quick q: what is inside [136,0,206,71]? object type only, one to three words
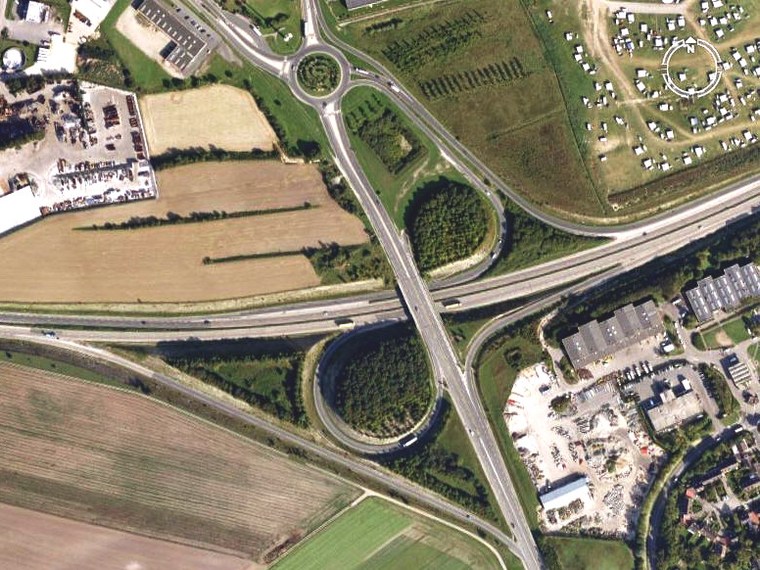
building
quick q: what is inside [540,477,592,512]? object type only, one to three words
barn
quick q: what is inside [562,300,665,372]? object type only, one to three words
building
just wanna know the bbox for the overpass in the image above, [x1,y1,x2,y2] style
[391,258,446,344]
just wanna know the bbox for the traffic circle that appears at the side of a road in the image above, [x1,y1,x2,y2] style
[287,42,352,107]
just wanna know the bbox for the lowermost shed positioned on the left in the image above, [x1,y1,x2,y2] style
[0,184,41,230]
